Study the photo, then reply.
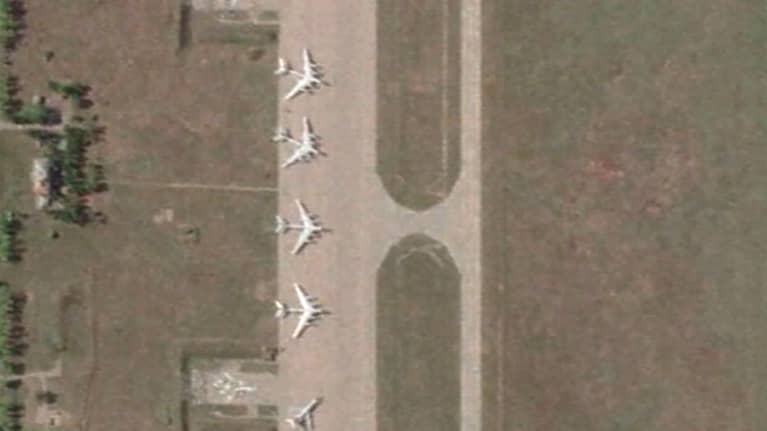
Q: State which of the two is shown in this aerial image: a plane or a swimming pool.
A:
plane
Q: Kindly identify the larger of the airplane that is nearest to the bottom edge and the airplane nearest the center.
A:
the airplane nearest the center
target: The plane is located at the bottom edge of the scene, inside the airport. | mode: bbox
[284,399,319,430]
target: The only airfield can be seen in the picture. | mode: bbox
[278,0,482,431]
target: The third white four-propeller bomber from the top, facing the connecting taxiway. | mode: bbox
[277,199,330,253]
